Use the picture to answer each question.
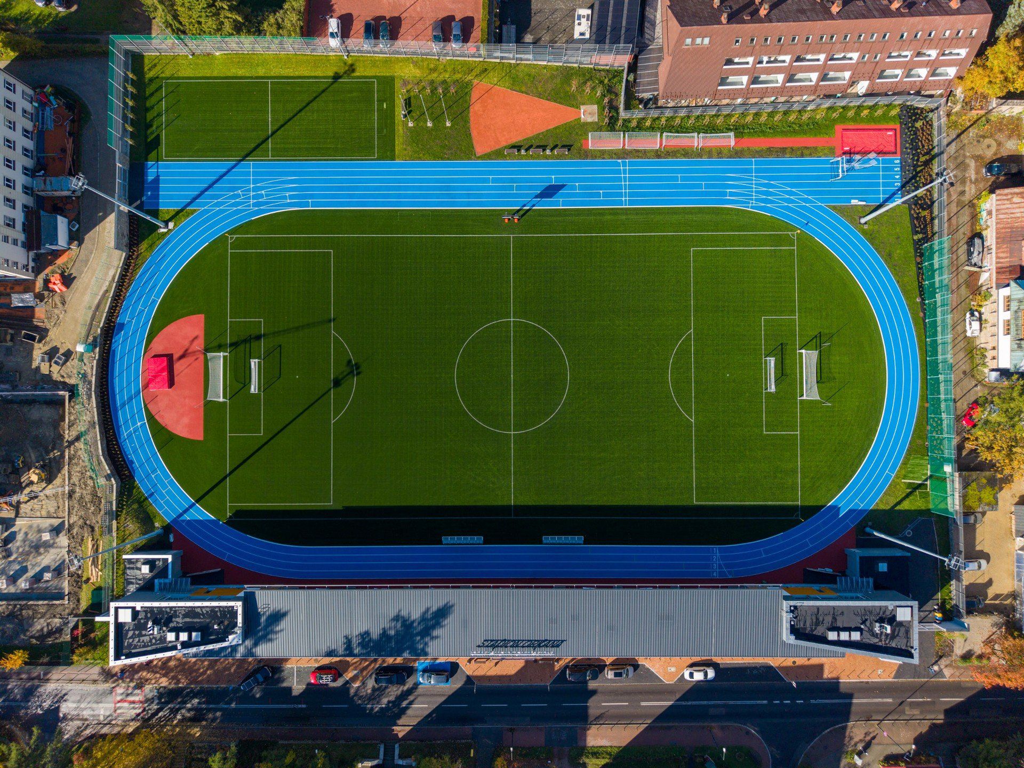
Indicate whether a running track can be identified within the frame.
Yes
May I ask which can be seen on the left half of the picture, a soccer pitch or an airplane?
soccer pitch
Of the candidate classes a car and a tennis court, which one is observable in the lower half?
car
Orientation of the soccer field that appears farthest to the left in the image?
from left to right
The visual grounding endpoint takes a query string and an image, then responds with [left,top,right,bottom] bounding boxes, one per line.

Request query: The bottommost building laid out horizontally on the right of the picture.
[761,571,918,663]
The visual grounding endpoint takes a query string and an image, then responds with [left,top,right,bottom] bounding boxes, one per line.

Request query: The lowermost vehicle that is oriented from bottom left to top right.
[241,665,271,690]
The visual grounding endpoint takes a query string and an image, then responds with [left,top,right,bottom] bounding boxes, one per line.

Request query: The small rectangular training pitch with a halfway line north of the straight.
[142,75,396,161]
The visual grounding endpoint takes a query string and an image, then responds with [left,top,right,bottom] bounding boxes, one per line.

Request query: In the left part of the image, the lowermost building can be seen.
[110,573,268,665]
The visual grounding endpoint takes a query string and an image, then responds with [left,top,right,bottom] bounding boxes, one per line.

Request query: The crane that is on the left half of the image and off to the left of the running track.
[0,486,70,527]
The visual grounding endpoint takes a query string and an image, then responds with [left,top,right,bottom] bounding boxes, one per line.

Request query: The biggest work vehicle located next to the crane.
[11,461,53,488]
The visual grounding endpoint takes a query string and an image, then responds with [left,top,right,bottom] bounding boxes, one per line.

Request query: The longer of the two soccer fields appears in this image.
[141,206,887,546]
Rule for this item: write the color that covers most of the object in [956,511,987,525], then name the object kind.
gray car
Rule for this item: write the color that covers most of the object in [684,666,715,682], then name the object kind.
white car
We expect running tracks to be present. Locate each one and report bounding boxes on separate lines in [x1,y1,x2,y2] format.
[109,157,920,579]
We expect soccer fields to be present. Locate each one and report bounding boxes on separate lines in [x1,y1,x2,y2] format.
[141,206,887,546]
[142,75,396,161]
